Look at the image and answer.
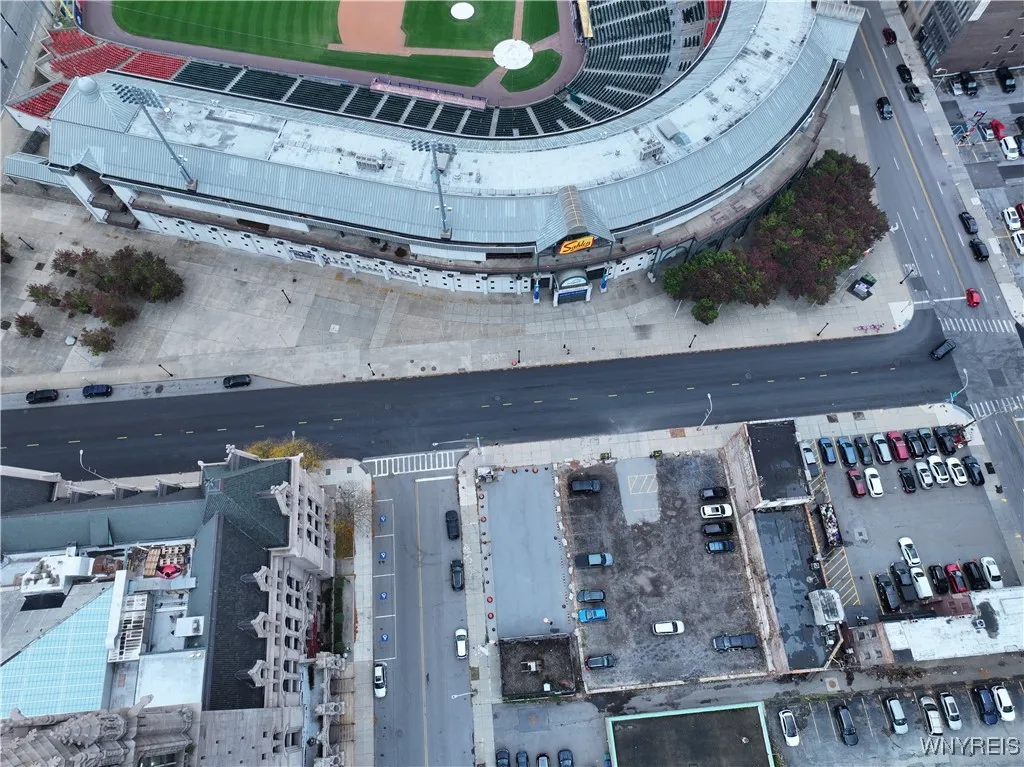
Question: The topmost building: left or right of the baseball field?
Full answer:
The baseball field has the topmost building on its right side.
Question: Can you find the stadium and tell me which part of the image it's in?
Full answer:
Look in the top portion of the view to spot the stadium.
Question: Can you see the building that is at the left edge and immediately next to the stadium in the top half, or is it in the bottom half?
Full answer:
It is in the bottom half that the building that is at the left edge and immediately next to the stadium appears.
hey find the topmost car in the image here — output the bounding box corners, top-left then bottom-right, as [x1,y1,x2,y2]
[880,28,897,44]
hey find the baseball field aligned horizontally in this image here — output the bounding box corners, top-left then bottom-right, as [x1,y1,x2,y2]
[76,0,594,109]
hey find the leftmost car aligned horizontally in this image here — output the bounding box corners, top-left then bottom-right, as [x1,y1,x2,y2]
[28,390,59,404]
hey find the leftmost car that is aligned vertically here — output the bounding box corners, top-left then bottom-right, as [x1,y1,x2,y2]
[371,661,388,699]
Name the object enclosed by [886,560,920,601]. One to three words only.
vehicle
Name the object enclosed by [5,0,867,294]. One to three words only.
stadium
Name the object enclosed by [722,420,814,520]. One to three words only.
building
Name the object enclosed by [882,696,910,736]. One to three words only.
car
